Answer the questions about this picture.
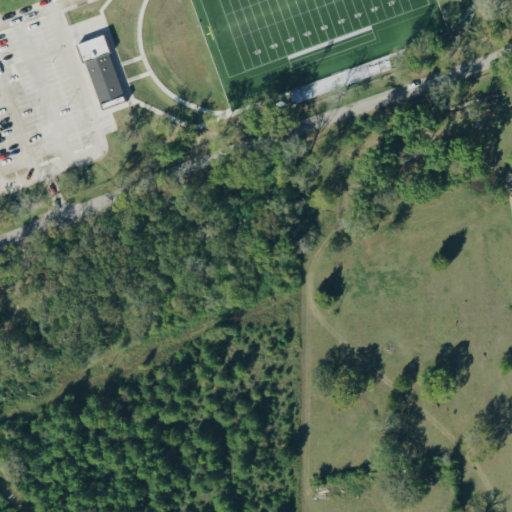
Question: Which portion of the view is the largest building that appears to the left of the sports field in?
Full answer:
The largest building that appears to the left of the sports field appears toward the top left of the photo.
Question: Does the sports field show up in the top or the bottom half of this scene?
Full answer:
The sports field is in the top half of the image.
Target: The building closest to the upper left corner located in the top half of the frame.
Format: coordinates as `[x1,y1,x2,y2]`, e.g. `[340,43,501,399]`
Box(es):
[76,34,126,108]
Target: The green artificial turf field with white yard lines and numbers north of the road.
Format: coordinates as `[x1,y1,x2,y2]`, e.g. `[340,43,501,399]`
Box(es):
[192,0,450,108]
